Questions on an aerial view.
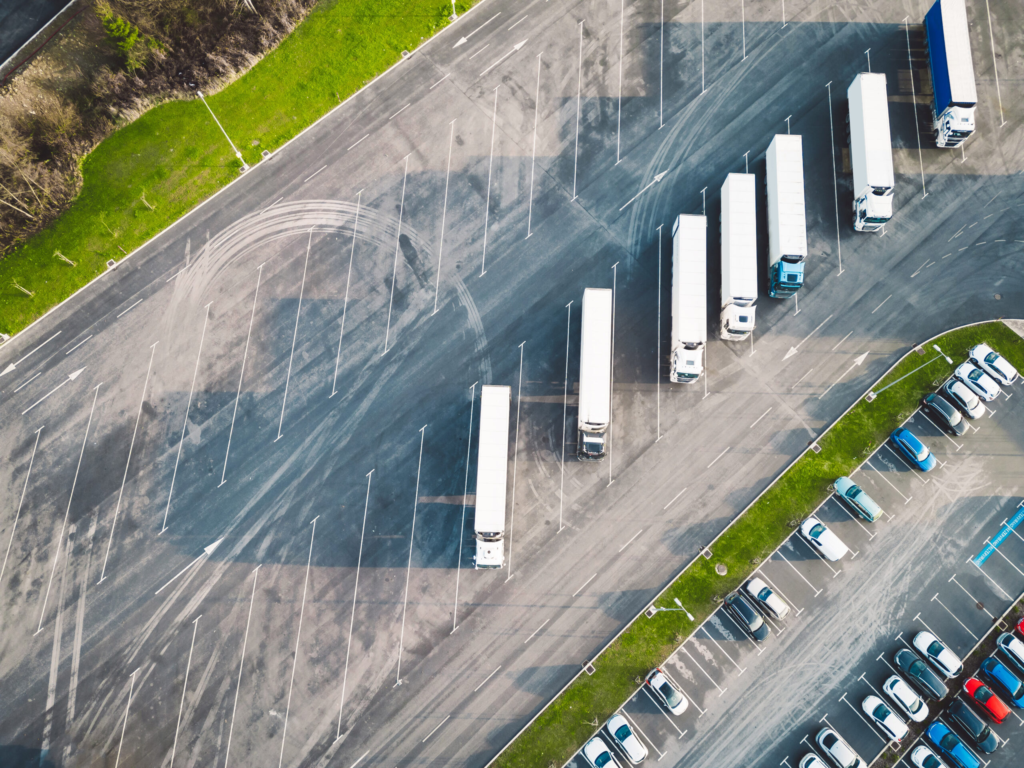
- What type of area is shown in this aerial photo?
parking lot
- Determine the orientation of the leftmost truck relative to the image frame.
from top to bottom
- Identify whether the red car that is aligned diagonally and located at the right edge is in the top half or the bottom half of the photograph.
bottom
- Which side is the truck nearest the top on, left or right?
right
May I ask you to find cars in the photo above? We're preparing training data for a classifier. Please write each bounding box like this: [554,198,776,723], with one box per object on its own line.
[584,738,624,768]
[911,747,947,768]
[796,752,826,768]
[746,577,791,622]
[881,675,927,722]
[963,679,1012,725]
[913,632,964,679]
[1013,621,1024,644]
[920,392,967,435]
[894,649,949,702]
[833,477,882,523]
[814,726,864,768]
[888,428,935,472]
[941,381,984,419]
[929,722,983,768]
[977,658,1024,708]
[969,346,1018,387]
[993,632,1024,678]
[645,670,687,715]
[861,695,910,744]
[944,698,998,753]
[954,364,1000,403]
[606,714,650,765]
[722,592,769,641]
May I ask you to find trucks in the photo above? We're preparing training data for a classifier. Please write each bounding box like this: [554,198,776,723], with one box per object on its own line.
[719,173,757,340]
[923,0,978,148]
[471,383,511,570]
[670,213,707,384]
[764,134,808,298]
[575,286,612,464]
[846,72,894,230]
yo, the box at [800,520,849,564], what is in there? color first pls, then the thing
white vehicle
